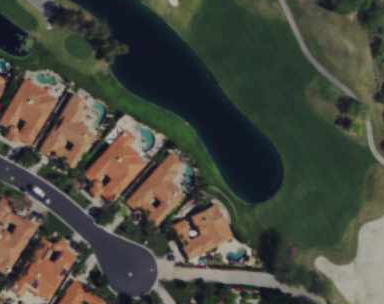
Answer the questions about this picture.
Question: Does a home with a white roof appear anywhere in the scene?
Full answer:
No, I find no home with a white roof anywhere in the image.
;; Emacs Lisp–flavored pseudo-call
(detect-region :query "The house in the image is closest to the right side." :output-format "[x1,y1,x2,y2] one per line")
[174,203,235,260]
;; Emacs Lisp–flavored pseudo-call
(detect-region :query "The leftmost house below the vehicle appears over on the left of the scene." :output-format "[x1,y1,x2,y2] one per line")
[0,196,38,274]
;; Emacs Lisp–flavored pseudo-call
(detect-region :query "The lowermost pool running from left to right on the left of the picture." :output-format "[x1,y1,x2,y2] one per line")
[36,72,60,86]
